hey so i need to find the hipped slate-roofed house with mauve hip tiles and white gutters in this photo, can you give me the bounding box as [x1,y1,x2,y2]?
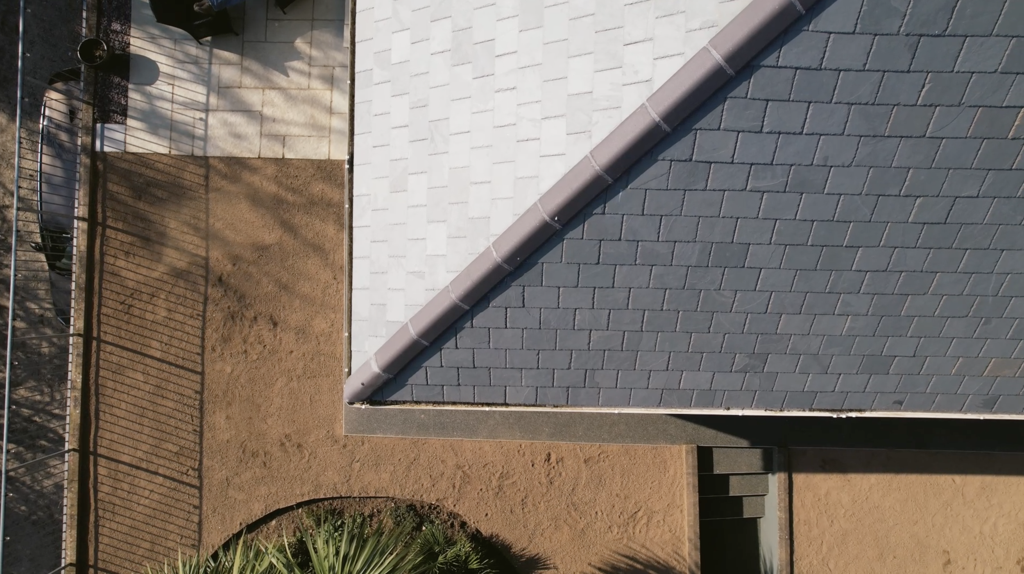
[338,0,1024,421]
